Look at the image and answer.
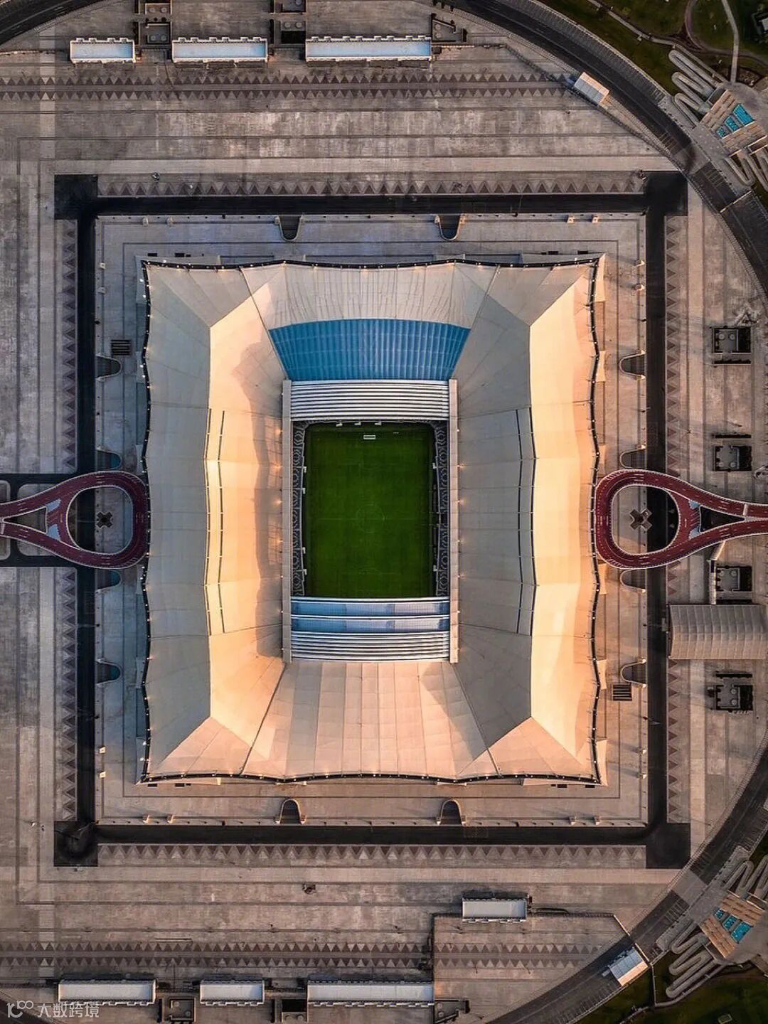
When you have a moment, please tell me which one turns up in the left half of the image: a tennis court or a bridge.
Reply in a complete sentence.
You can see a bridge in the left half of the image.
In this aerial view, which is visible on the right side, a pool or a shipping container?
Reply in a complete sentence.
There is a pool on the right side.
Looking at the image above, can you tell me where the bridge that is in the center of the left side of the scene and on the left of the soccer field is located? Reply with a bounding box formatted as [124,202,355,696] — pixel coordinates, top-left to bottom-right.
[0,470,147,569]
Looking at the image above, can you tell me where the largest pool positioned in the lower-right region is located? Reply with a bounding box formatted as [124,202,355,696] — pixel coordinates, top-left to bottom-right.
[729,920,754,944]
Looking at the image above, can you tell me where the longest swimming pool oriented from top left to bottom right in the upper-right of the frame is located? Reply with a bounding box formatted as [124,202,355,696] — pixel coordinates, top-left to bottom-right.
[732,104,755,126]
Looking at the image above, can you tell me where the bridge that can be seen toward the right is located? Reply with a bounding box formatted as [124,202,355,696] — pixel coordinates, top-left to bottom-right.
[595,469,768,570]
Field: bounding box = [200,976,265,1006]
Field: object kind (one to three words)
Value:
building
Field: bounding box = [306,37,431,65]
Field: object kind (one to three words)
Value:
building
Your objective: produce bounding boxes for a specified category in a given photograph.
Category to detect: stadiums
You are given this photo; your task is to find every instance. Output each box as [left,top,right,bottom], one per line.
[137,255,607,785]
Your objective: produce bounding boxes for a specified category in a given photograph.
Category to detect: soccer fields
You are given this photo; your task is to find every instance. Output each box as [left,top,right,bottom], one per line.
[301,423,440,598]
